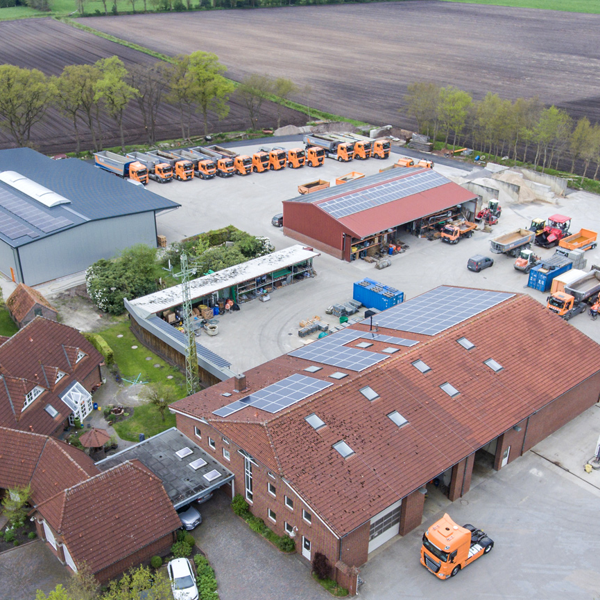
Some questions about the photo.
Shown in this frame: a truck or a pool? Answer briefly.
truck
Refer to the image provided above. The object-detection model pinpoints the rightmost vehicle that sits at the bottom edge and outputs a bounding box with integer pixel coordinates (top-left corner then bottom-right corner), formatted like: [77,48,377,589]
[426,509,501,573]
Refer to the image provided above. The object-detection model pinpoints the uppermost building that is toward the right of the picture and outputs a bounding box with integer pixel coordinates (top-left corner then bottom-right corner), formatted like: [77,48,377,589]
[282,166,478,262]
